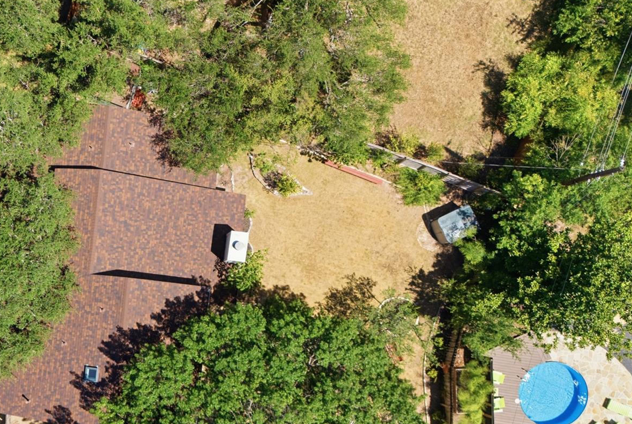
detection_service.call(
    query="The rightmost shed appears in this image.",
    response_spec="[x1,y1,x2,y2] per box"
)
[426,206,480,245]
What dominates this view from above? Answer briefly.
trees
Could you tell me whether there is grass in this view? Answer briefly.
Yes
